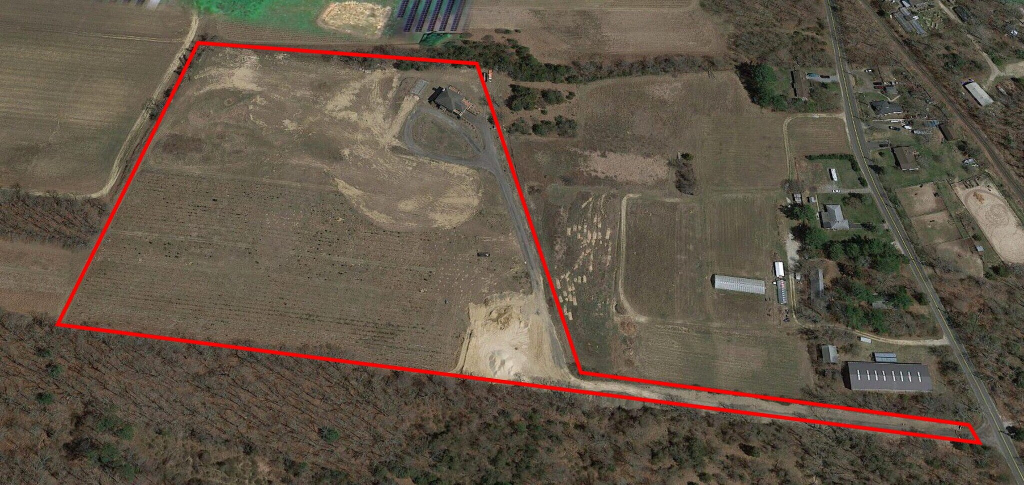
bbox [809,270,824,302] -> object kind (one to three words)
house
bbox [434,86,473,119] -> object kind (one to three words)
house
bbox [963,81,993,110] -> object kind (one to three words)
building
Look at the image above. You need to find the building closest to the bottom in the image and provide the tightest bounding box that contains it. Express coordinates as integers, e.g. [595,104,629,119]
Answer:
[845,363,932,394]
